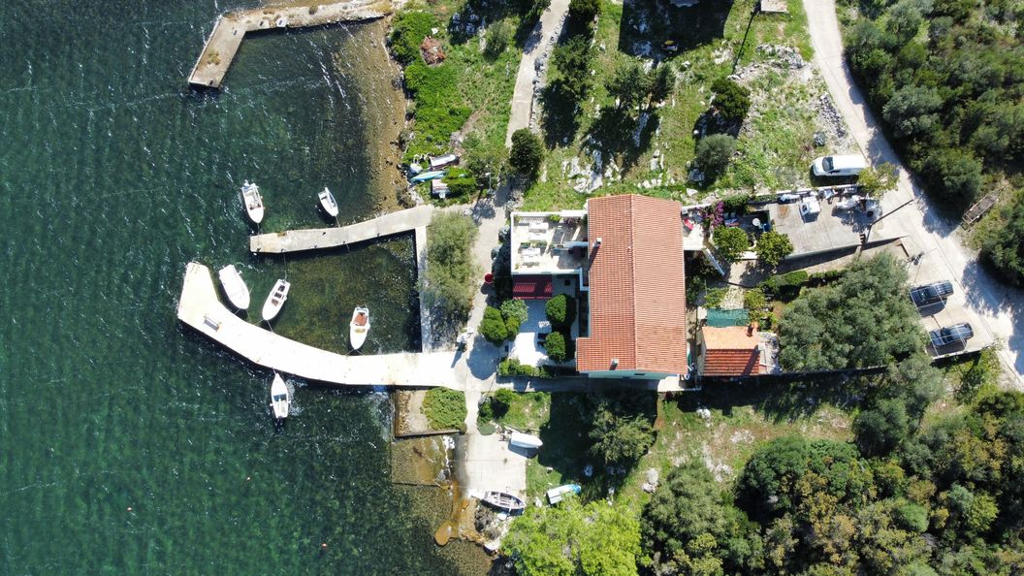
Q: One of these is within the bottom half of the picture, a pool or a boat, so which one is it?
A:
boat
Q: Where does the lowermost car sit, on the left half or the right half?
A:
right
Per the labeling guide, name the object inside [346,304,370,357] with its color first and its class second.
white boat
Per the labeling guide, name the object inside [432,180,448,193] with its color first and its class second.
white boat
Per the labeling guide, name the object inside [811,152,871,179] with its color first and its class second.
white vehicle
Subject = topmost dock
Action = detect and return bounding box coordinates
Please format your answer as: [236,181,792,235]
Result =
[188,0,390,90]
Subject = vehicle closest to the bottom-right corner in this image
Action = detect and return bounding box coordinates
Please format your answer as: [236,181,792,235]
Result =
[922,321,977,351]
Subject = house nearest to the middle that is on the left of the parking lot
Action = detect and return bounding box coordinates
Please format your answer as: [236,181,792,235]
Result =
[572,190,687,375]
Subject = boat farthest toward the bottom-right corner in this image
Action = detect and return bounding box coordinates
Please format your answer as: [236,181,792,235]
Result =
[547,487,580,507]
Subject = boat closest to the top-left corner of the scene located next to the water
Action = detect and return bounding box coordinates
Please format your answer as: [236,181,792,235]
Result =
[242,183,263,231]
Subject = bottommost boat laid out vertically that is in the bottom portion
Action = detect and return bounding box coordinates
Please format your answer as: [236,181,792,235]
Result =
[270,367,289,423]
